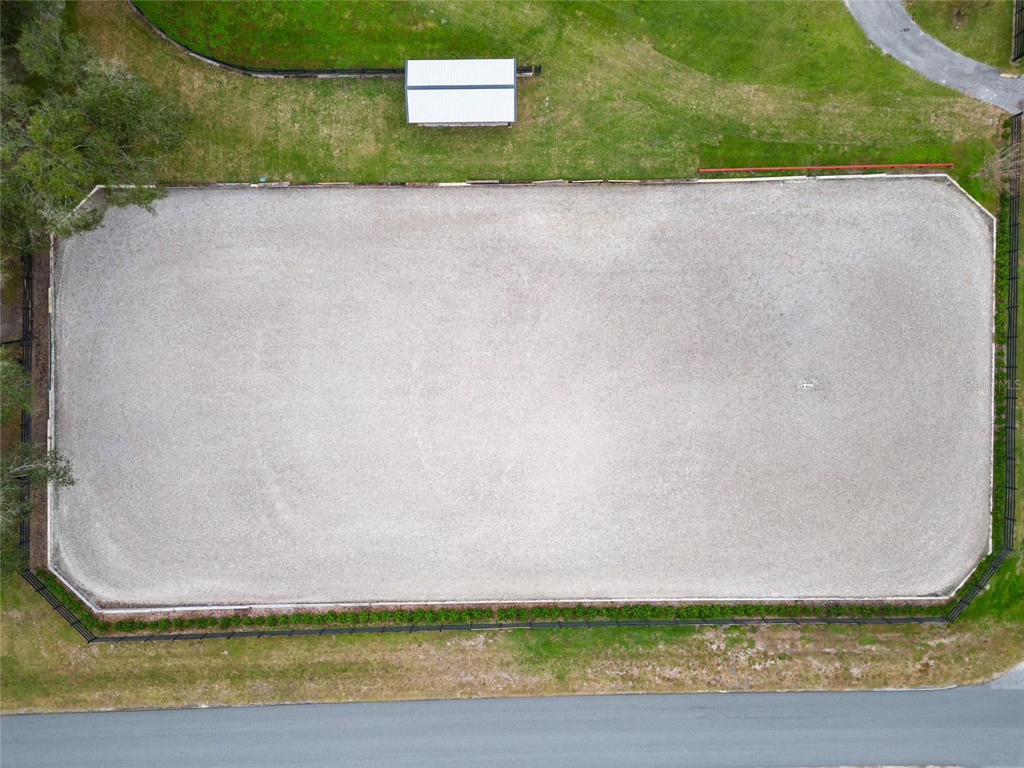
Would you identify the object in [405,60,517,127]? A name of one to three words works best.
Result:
shed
